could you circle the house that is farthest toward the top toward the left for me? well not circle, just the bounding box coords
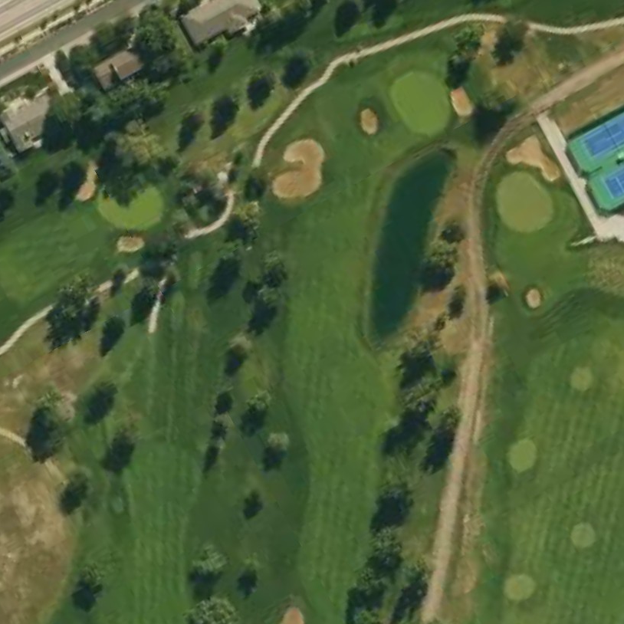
[176,0,263,47]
